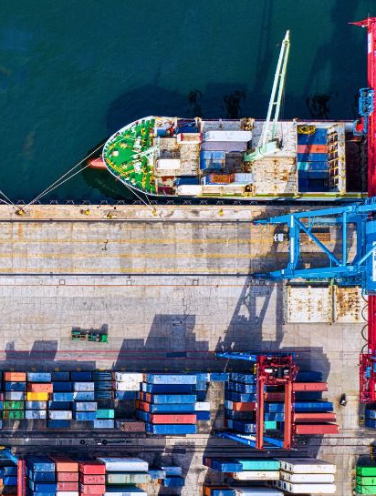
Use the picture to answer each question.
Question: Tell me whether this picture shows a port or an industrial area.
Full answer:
The area seen from above is a port.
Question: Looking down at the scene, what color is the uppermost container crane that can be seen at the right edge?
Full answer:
The color of the uppermost container crane that can be seen at the right edge is blue.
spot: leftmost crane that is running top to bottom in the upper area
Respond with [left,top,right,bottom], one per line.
[237,28,292,168]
